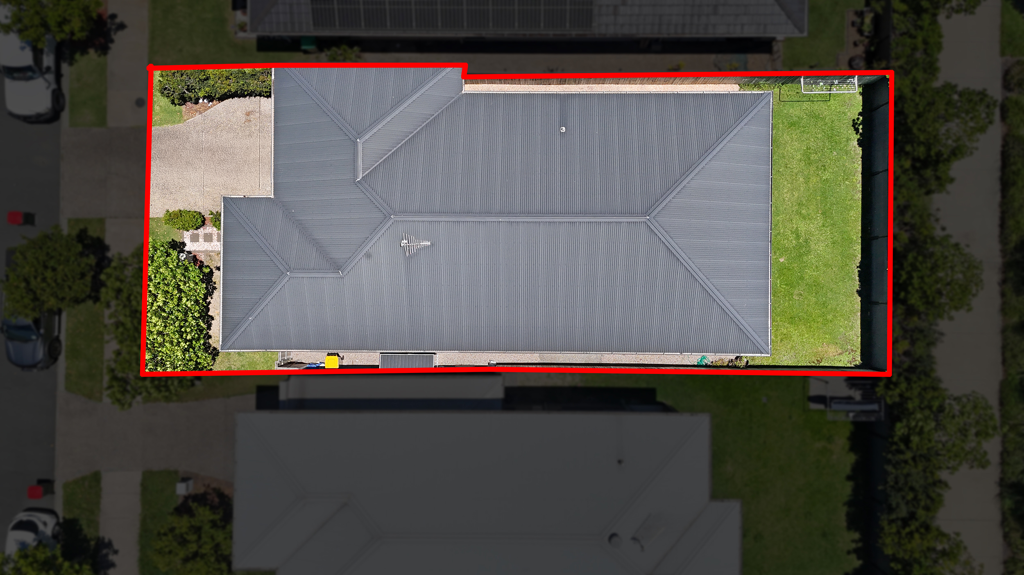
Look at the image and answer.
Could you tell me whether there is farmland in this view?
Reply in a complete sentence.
No, there is no farmland in the image.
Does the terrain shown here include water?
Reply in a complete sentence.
No, no water is visible.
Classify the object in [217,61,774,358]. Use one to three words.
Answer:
house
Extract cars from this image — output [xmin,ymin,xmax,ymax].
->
[4,18,65,124]
[0,265,60,372]
[10,509,64,575]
